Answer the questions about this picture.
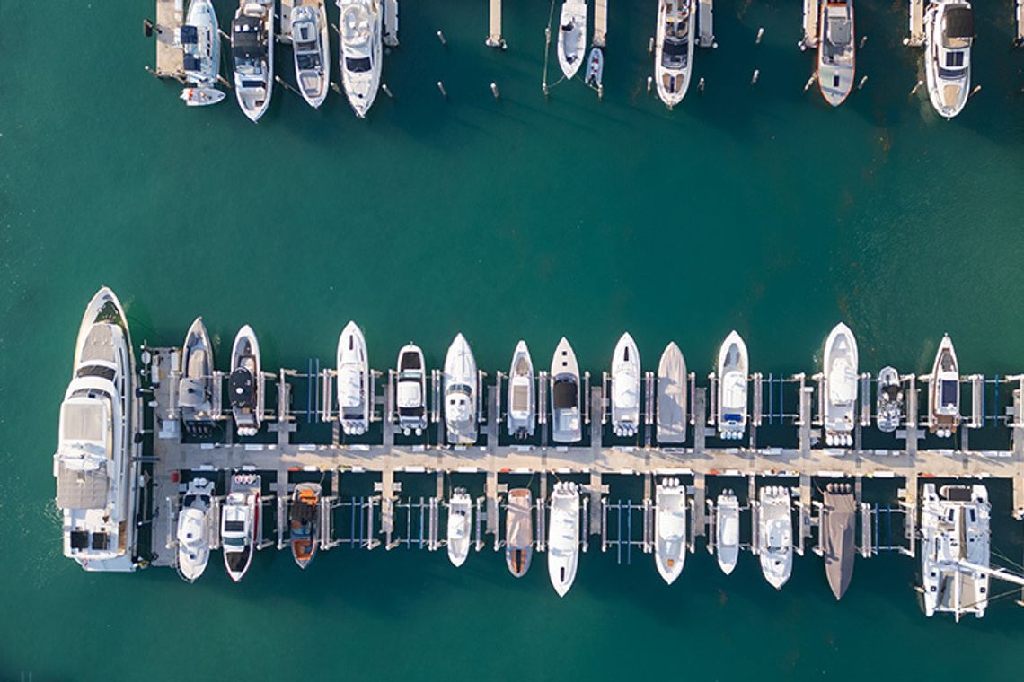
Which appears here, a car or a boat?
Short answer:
boat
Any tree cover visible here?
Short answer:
No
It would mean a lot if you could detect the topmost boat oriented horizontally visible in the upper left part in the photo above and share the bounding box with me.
[182,88,227,106]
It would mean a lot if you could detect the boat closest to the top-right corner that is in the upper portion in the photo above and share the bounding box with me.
[923,0,974,120]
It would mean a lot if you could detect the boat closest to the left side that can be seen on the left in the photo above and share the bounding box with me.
[54,285,148,571]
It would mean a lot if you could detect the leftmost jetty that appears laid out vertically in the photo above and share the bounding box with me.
[155,0,189,77]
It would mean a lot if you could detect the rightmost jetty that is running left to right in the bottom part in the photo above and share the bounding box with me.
[151,346,1024,567]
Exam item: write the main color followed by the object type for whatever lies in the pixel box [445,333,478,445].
white boat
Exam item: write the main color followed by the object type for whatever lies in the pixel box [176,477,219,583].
white boat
